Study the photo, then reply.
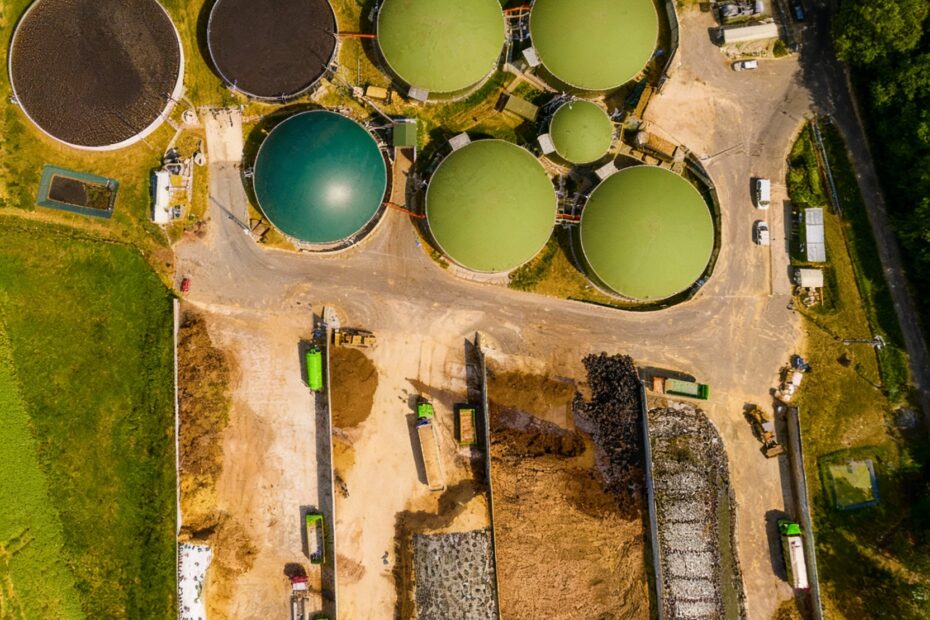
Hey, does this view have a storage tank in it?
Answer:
Yes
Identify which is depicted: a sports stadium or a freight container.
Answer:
freight container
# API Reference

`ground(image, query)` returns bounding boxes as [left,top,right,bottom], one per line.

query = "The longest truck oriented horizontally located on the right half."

[646,375,710,398]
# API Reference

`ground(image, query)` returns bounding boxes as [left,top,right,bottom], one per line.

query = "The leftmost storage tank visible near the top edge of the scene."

[8,0,186,152]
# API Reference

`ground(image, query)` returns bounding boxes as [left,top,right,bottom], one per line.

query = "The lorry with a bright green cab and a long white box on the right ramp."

[775,516,806,595]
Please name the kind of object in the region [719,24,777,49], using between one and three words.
shed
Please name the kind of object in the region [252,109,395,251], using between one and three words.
storage tank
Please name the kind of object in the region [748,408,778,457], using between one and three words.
work vehicle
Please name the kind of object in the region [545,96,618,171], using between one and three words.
storage tank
